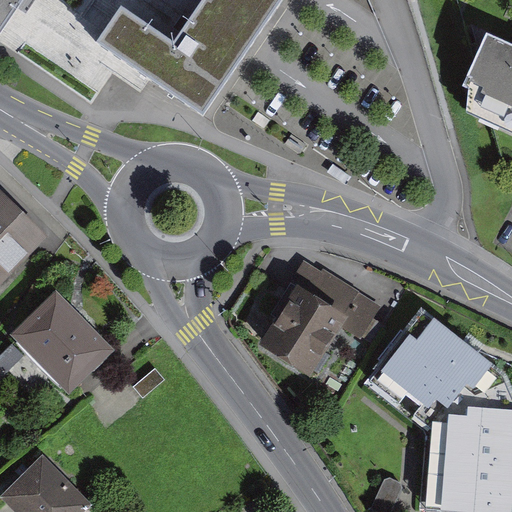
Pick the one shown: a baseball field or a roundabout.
roundabout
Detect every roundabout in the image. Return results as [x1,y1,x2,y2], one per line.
[104,142,244,282]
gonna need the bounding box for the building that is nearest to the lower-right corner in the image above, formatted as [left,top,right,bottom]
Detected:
[424,406,512,512]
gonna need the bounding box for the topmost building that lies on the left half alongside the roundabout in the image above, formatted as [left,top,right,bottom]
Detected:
[96,0,284,114]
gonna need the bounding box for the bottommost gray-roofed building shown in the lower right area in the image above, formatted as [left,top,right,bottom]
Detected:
[370,477,400,512]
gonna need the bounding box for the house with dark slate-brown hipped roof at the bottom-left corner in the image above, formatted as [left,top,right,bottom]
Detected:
[1,455,90,512]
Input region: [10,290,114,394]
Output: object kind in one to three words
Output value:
house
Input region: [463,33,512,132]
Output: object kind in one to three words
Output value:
house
